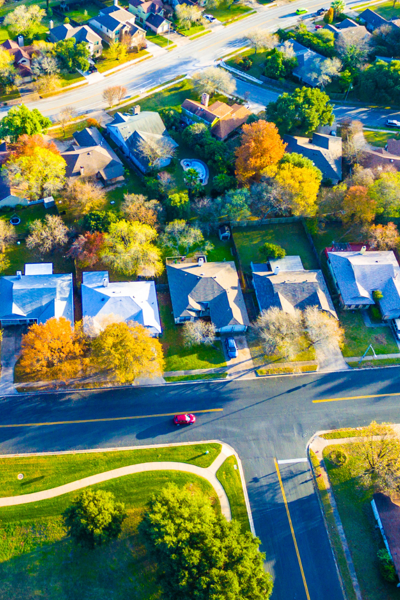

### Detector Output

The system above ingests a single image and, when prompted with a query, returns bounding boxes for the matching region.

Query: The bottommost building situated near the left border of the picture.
[0,262,75,330]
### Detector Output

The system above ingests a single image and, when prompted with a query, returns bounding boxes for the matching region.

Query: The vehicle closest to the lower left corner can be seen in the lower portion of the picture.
[173,412,195,426]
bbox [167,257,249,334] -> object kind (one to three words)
house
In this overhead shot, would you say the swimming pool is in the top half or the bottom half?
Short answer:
top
